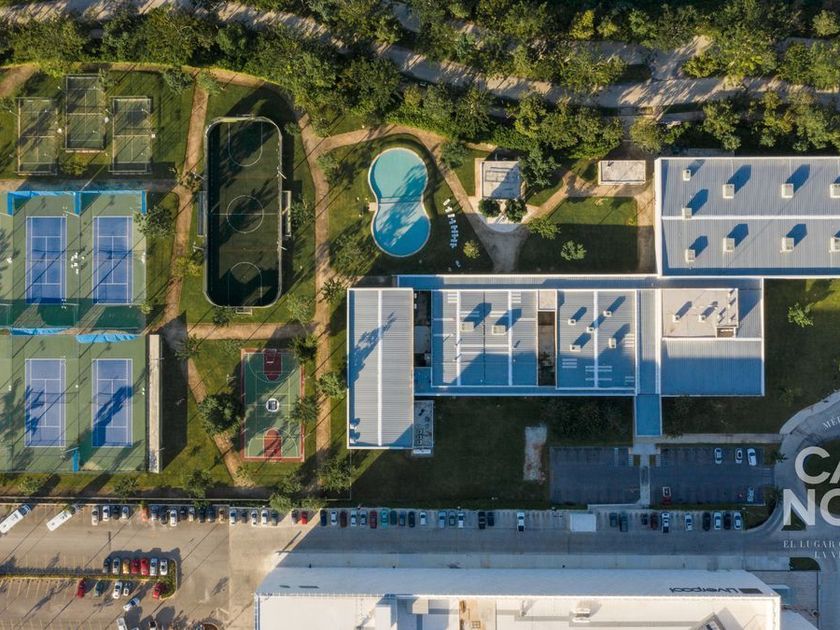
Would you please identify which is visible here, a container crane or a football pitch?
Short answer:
football pitch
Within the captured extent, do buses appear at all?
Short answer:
Yes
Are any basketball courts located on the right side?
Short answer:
No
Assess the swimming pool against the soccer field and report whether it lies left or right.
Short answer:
right of it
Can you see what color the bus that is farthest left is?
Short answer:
white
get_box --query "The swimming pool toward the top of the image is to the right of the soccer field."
[367,147,432,258]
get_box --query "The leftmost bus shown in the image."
[0,500,38,535]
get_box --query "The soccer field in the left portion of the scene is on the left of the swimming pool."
[203,114,281,306]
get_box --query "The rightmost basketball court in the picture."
[241,349,304,462]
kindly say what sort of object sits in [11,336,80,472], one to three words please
tennis court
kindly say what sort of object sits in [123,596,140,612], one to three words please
car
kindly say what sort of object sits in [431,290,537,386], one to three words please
building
